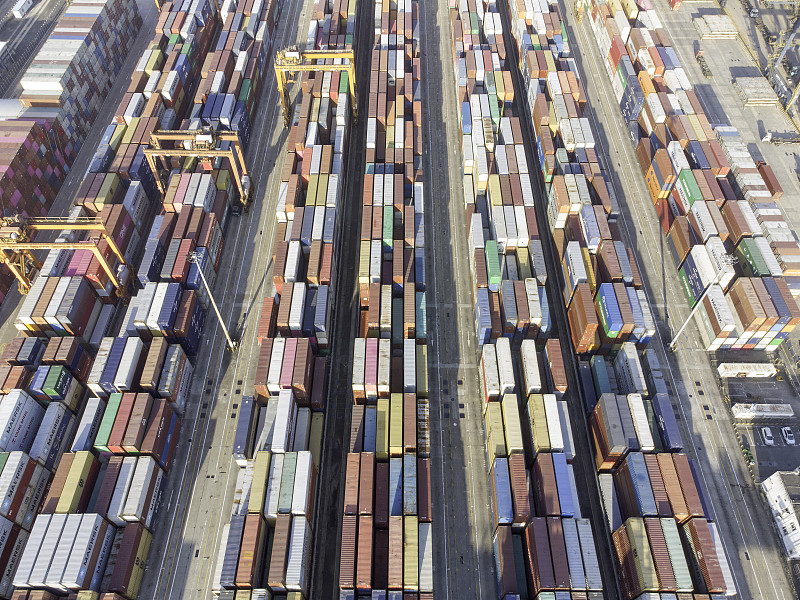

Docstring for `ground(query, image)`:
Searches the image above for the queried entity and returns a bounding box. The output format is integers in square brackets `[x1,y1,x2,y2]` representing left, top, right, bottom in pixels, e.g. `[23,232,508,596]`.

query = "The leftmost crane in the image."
[0,220,137,299]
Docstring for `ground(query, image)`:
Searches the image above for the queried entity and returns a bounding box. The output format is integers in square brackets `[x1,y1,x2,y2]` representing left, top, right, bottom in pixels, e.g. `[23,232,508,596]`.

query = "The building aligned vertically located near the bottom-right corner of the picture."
[757,467,800,562]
